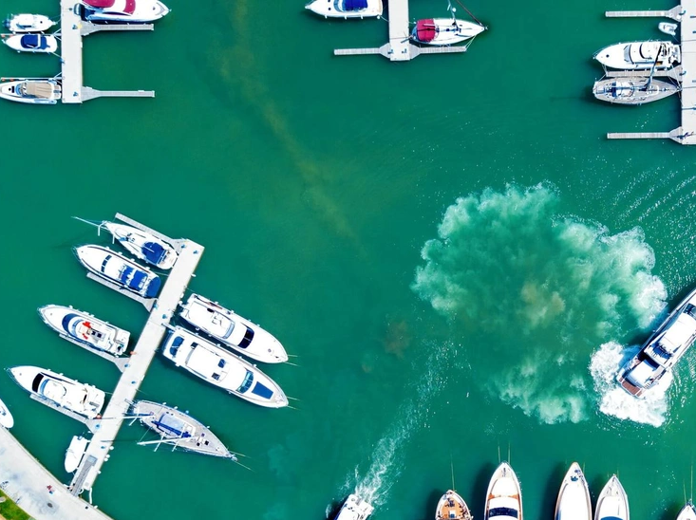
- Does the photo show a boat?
Yes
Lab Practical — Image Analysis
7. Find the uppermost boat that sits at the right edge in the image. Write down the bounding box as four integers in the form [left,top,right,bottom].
[659,21,678,36]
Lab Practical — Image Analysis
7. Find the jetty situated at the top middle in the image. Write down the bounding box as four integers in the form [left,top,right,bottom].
[334,0,466,63]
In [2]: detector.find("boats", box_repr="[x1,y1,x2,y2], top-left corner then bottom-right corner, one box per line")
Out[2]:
[67,433,88,472]
[3,31,60,54]
[484,441,523,520]
[75,247,162,300]
[593,463,626,520]
[80,213,178,270]
[335,495,372,520]
[181,296,296,363]
[659,21,678,36]
[592,49,684,107]
[308,0,387,22]
[5,13,60,35]
[436,485,472,520]
[80,0,167,30]
[157,321,297,407]
[0,78,62,106]
[38,307,137,358]
[101,395,250,469]
[11,367,112,416]
[595,40,679,75]
[615,291,696,401]
[0,397,12,426]
[408,0,484,47]
[550,443,590,520]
